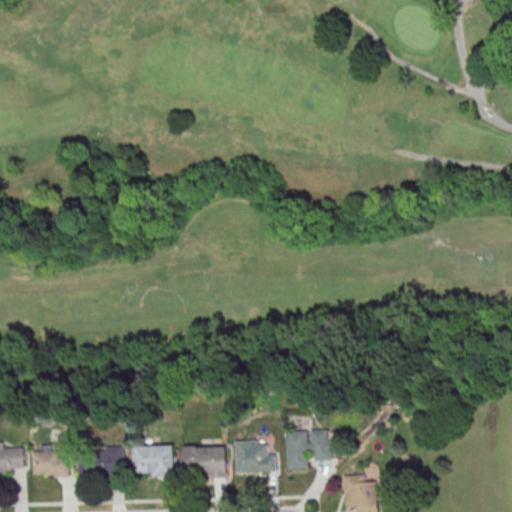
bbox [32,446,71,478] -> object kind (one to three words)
house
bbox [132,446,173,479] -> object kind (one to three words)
house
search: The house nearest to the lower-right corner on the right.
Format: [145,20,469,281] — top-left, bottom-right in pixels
[343,476,378,512]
